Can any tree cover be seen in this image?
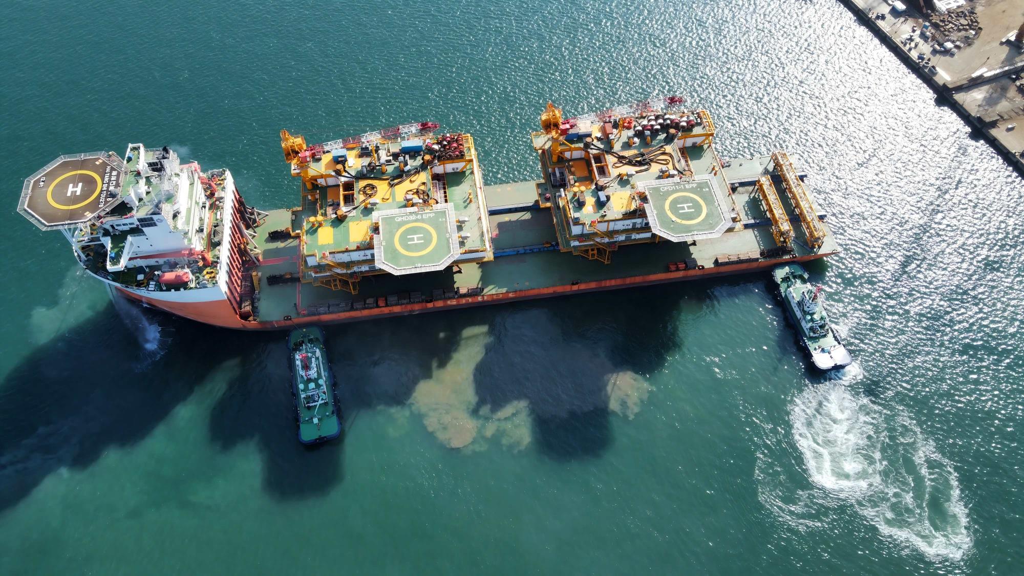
No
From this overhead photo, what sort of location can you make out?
port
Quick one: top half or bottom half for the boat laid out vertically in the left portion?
bottom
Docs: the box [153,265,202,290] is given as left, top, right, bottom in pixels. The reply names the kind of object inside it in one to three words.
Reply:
boat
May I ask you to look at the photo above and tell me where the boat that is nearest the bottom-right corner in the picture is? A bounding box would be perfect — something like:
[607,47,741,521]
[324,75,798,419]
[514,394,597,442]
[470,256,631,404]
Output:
[775,259,852,375]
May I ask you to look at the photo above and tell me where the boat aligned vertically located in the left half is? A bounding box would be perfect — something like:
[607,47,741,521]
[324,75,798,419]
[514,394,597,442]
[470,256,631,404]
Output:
[288,320,342,450]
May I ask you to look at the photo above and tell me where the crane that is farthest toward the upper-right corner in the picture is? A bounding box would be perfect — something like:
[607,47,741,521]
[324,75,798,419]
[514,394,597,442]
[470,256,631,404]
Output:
[533,94,690,176]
